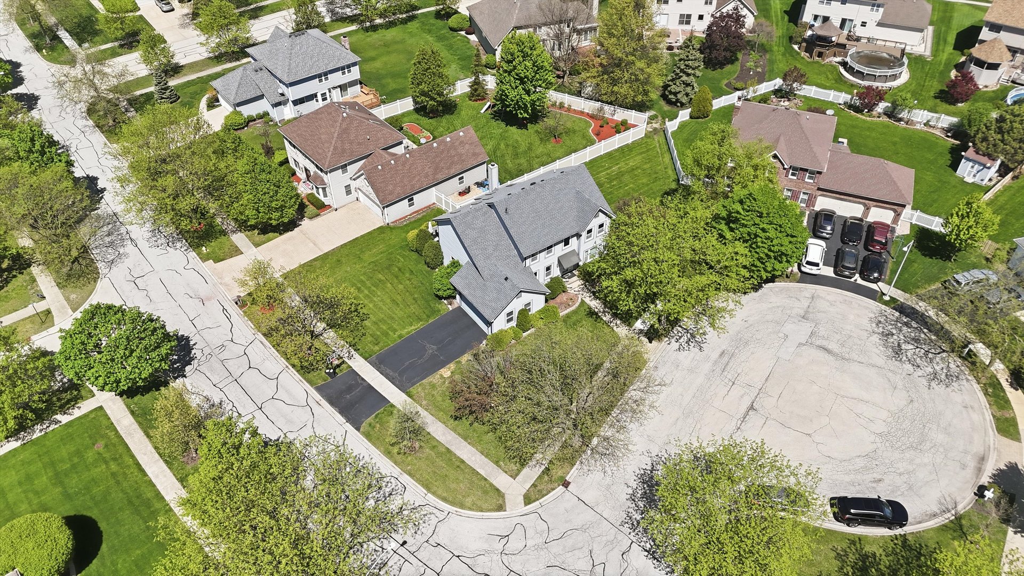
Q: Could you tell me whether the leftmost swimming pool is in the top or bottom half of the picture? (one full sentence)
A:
The leftmost swimming pool is in the top half of the image.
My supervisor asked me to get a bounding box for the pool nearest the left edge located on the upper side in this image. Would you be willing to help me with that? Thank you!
[845,47,911,84]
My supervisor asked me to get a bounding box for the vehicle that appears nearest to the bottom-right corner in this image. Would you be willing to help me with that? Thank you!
[829,495,907,532]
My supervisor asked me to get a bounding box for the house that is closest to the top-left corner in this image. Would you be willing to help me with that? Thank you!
[210,19,361,117]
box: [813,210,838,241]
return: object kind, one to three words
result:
car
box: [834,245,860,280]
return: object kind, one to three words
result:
car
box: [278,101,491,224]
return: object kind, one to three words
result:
house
